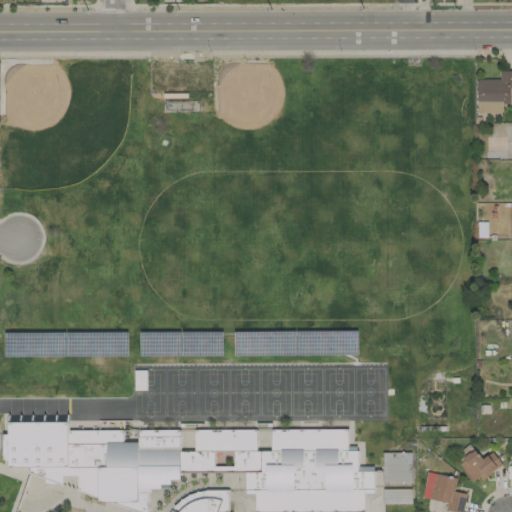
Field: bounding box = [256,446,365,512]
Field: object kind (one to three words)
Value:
building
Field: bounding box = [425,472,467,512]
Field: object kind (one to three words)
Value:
house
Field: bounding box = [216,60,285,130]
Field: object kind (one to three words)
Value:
baseball field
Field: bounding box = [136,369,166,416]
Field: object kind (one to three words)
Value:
basketball court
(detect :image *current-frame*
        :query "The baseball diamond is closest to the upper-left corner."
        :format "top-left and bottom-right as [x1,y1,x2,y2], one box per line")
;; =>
[2,59,132,191]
